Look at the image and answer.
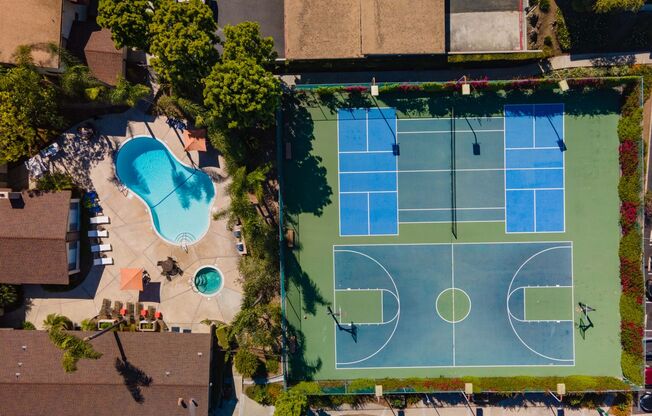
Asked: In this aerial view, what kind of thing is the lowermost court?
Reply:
basketball court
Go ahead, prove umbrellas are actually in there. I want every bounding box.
[185,129,207,151]
[121,269,143,290]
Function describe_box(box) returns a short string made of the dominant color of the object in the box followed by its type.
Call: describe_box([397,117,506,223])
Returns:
blue tennis court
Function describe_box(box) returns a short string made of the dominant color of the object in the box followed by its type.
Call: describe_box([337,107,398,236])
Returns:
blue sports court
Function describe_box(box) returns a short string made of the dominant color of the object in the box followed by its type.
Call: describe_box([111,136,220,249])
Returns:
blue swimming pool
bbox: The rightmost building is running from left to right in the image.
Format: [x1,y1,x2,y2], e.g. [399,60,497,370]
[285,0,445,65]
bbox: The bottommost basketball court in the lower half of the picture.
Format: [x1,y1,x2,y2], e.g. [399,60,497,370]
[333,241,575,368]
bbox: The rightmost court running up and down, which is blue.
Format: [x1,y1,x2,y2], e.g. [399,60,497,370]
[504,103,565,233]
